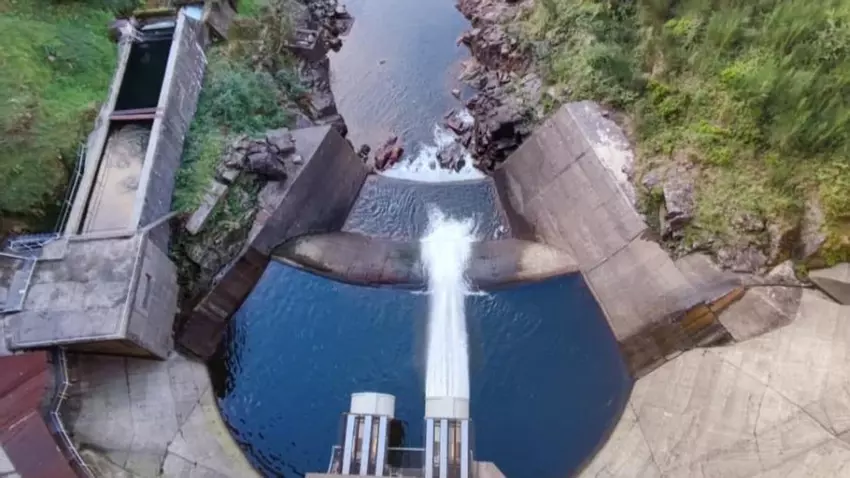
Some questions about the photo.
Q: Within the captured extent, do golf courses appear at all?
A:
No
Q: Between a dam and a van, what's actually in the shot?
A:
dam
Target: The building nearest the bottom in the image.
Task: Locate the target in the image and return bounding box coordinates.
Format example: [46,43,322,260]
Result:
[0,352,85,478]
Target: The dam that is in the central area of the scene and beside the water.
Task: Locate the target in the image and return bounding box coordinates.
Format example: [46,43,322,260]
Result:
[268,234,578,288]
